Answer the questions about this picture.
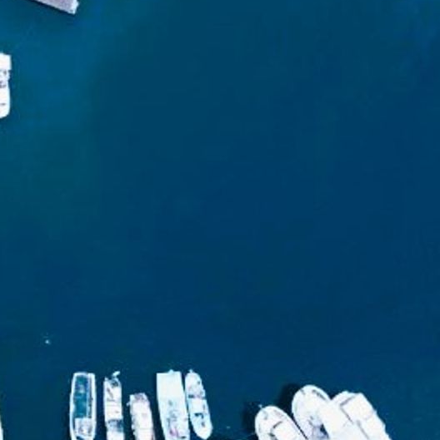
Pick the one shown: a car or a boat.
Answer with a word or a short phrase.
boat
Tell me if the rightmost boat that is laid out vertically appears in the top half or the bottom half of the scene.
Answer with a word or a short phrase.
bottom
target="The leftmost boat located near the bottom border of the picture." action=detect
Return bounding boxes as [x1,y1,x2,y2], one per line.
[70,372,97,440]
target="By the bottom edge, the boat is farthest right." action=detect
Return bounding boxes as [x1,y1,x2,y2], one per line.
[323,383,397,440]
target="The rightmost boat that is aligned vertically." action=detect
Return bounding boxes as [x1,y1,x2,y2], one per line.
[183,367,211,440]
